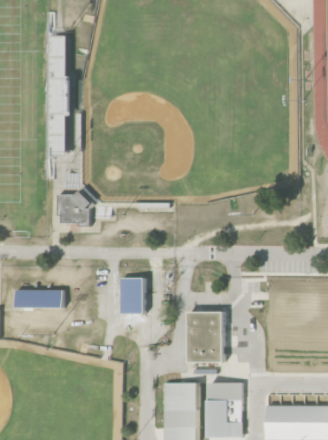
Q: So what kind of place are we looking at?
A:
sports ground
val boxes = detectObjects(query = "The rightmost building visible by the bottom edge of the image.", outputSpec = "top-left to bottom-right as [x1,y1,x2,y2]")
[264,406,328,440]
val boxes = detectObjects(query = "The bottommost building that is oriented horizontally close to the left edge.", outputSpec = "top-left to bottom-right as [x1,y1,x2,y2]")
[14,290,65,308]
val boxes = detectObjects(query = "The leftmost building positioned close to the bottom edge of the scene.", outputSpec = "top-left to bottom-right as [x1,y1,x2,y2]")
[164,382,200,440]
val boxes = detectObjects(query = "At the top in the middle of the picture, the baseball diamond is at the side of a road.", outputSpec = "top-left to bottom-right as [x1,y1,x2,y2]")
[88,0,300,200]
